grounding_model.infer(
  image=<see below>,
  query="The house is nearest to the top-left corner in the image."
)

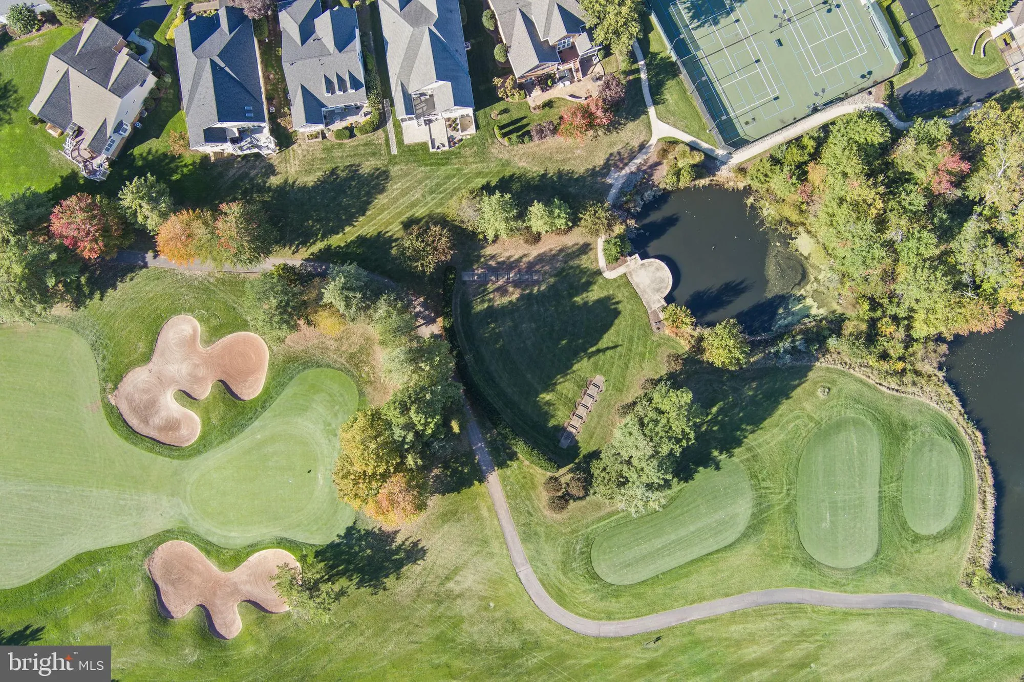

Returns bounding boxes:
[28,17,159,184]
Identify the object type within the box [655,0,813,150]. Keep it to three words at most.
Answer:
tennis court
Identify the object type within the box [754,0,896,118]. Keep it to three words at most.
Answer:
tennis court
